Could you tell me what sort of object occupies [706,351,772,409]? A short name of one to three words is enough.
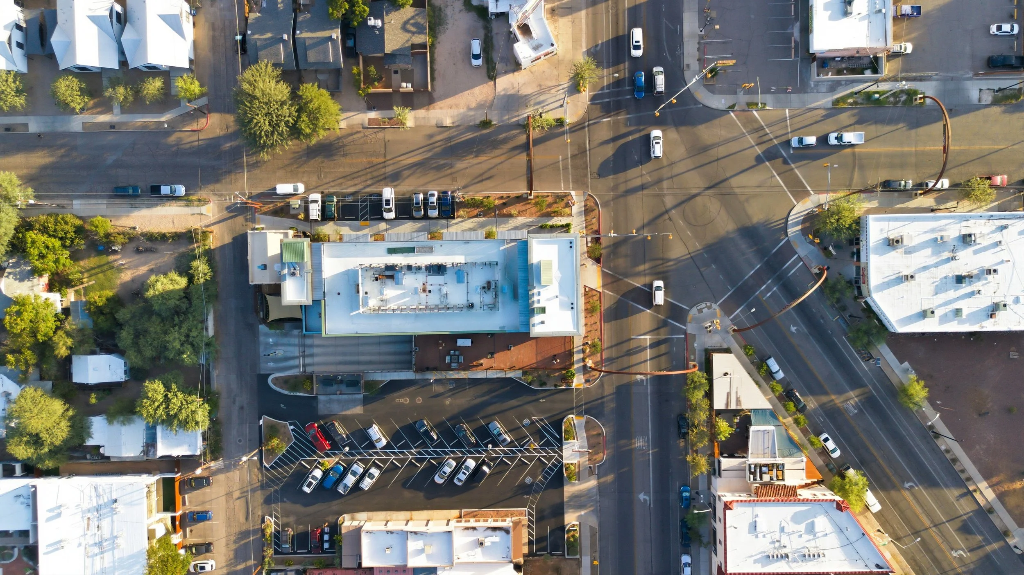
building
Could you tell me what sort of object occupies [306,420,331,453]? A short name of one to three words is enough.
truck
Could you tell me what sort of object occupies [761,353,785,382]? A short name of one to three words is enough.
car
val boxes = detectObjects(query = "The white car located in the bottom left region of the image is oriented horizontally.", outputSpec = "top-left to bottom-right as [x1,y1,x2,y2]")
[191,559,217,572]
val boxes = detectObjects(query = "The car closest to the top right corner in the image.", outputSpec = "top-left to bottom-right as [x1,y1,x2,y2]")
[988,22,1017,36]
